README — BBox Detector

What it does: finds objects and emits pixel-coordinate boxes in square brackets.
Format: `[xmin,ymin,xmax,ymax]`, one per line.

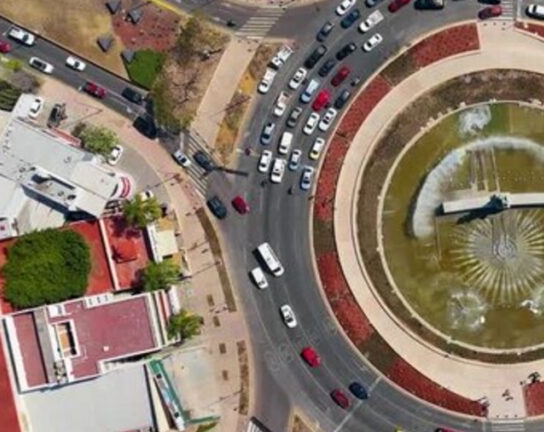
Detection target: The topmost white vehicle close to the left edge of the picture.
[7,27,35,45]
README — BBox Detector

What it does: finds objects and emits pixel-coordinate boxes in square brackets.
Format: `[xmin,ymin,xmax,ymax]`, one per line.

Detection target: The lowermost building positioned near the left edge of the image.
[25,357,158,432]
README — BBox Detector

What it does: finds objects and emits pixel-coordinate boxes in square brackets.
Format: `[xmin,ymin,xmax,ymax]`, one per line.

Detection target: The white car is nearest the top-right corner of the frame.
[527,4,544,17]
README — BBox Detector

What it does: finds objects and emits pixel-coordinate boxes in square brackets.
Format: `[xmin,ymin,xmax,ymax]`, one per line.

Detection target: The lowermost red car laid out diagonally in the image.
[330,387,350,408]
